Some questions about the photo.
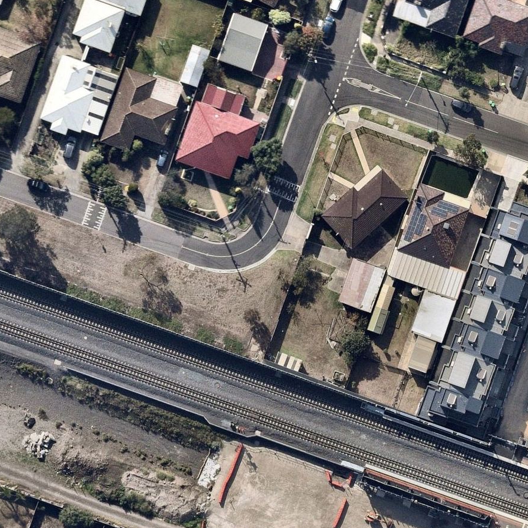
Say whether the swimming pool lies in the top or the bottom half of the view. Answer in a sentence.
The top half of the photo is where the swimming pool is.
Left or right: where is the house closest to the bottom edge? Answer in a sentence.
It is on the right.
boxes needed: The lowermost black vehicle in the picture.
[26,177,52,193]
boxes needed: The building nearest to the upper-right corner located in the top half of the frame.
[463,0,528,58]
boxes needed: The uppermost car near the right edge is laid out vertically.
[509,65,524,90]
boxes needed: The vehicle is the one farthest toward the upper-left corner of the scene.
[64,136,76,160]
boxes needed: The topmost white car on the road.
[328,0,342,15]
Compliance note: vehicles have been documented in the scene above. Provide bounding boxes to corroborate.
[509,65,524,90]
[328,0,342,15]
[323,13,336,39]
[450,98,475,113]
[26,177,52,193]
[156,147,167,169]
[64,136,76,160]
